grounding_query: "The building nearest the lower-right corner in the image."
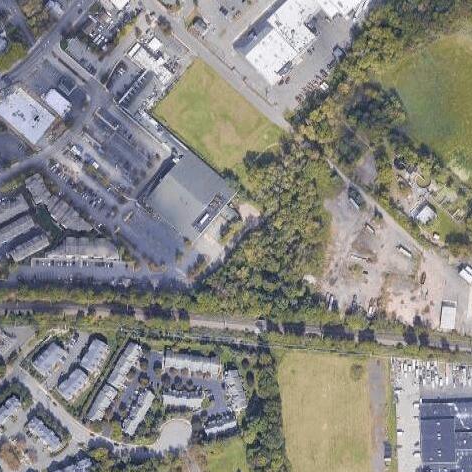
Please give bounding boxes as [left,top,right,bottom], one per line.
[421,401,472,472]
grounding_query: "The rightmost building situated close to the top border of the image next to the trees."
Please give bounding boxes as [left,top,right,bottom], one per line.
[245,0,357,86]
